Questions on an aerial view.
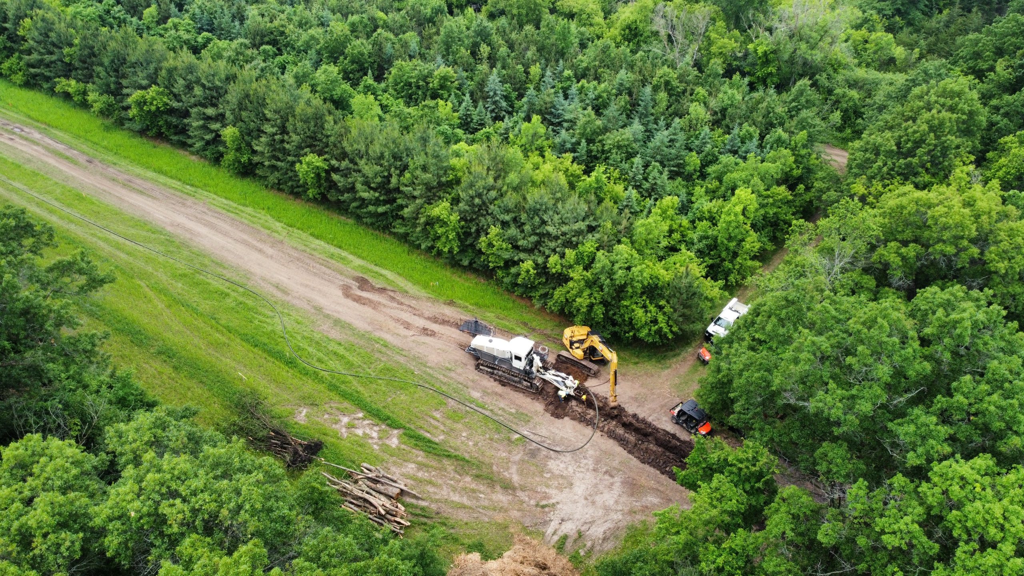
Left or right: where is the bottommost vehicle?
right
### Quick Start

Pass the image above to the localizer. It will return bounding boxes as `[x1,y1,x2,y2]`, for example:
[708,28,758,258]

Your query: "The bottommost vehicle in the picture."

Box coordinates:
[667,399,717,439]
